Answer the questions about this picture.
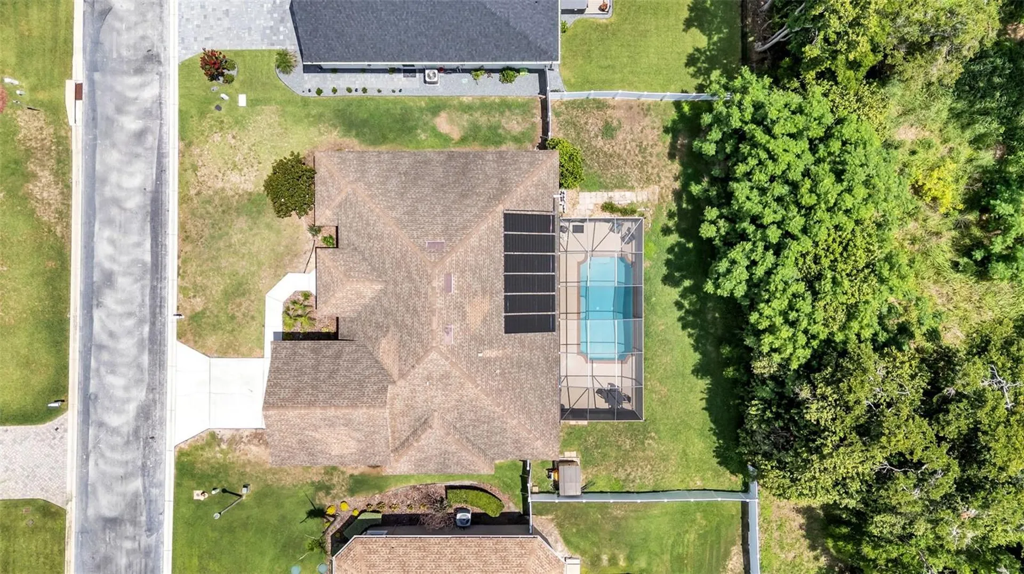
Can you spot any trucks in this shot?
No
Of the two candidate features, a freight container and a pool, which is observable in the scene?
pool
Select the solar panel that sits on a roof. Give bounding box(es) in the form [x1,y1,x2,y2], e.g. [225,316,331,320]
[503,198,555,334]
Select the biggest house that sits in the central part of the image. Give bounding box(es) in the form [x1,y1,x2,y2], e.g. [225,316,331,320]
[262,149,563,475]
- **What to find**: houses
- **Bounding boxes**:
[262,149,563,475]
[291,0,560,69]
[331,528,580,574]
